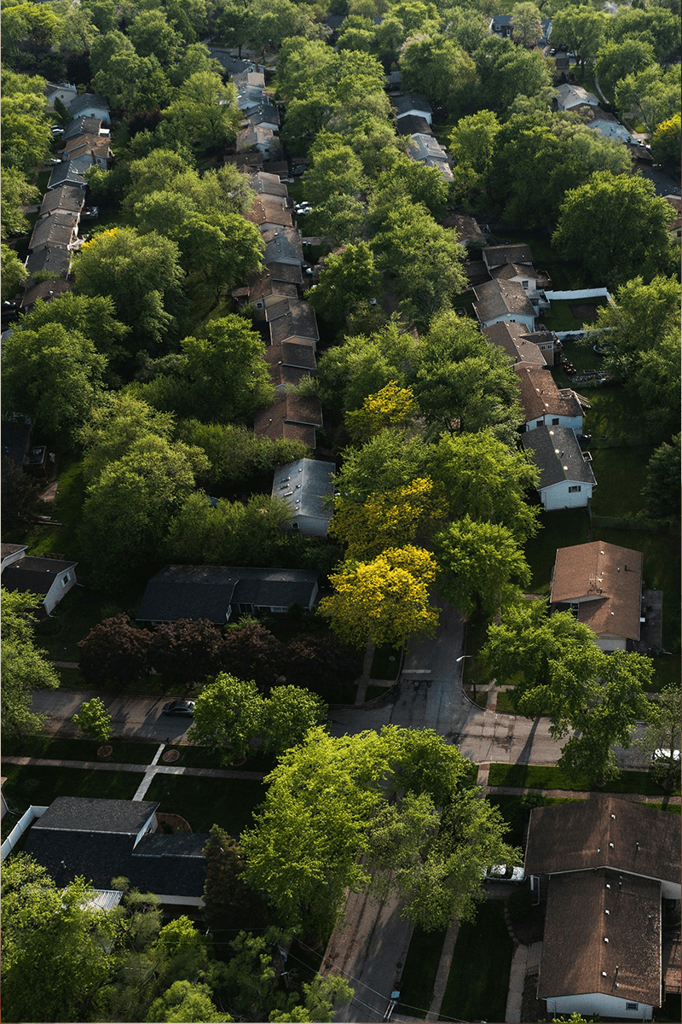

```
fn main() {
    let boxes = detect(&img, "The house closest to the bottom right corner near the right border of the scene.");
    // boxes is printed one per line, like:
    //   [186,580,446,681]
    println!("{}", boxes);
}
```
[524,797,682,1022]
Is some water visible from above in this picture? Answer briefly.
No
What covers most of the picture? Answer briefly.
trees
